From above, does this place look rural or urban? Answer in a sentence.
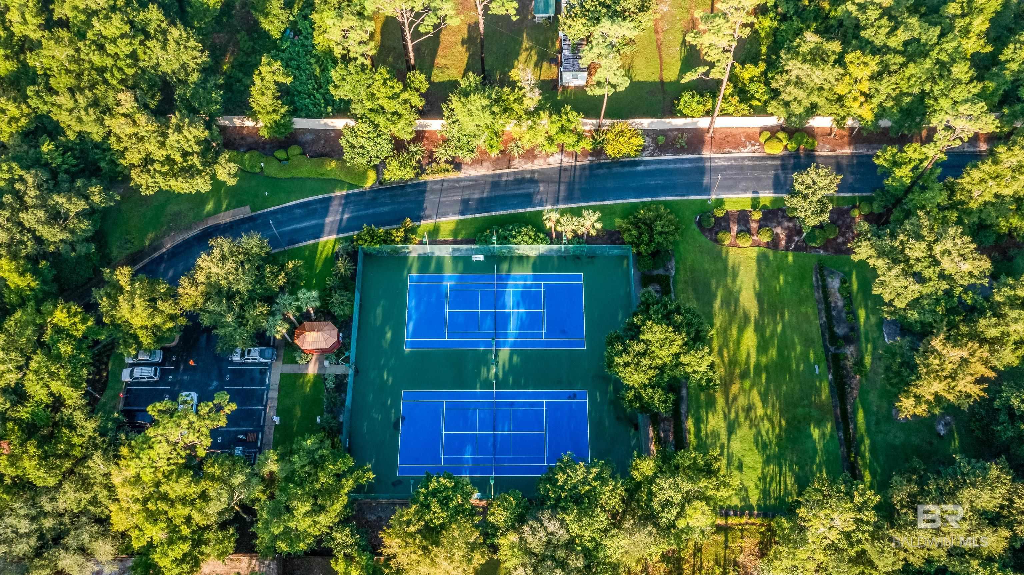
It looks rural.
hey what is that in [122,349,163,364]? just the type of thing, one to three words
car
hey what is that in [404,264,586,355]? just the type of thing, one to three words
tennis court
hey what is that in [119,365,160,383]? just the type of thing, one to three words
car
